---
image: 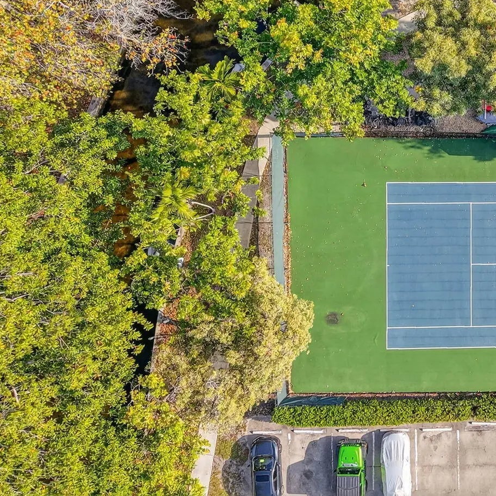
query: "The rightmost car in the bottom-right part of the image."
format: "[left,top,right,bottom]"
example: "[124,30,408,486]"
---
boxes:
[381,432,411,496]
